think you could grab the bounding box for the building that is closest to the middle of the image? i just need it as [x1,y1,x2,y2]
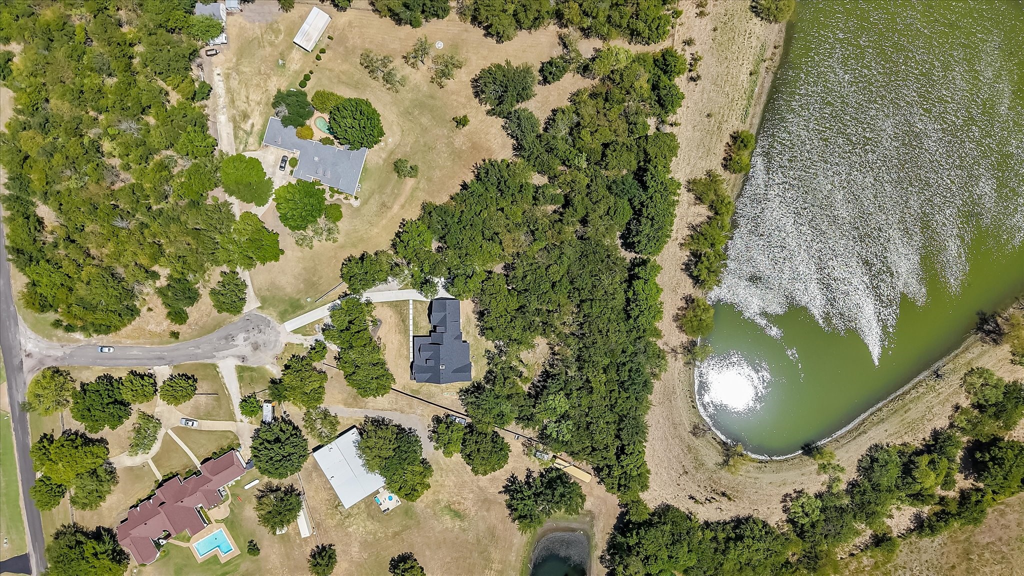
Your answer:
[411,300,471,384]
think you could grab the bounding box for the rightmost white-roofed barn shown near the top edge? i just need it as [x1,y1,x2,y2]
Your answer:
[292,6,333,55]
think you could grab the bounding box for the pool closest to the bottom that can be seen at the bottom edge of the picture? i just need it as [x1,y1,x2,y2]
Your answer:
[192,528,235,560]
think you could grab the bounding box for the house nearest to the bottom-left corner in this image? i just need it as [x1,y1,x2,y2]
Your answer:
[118,449,247,567]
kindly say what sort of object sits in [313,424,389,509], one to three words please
building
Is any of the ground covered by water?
Yes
